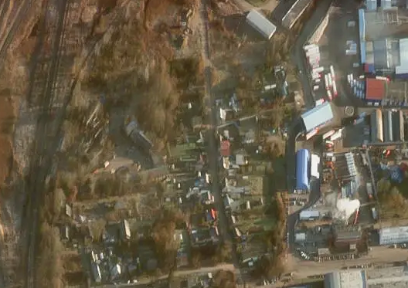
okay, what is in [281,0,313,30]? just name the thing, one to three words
building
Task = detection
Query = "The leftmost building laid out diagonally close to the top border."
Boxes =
[246,8,276,41]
